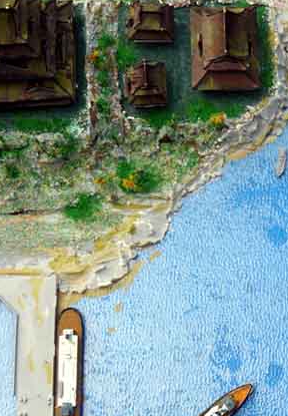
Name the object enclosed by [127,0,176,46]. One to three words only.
building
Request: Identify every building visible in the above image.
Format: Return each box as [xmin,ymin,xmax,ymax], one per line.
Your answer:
[190,0,263,96]
[121,54,169,110]
[0,0,74,107]
[127,0,176,46]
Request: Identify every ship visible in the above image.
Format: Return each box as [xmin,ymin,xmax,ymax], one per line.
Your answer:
[55,308,86,416]
[199,385,252,416]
